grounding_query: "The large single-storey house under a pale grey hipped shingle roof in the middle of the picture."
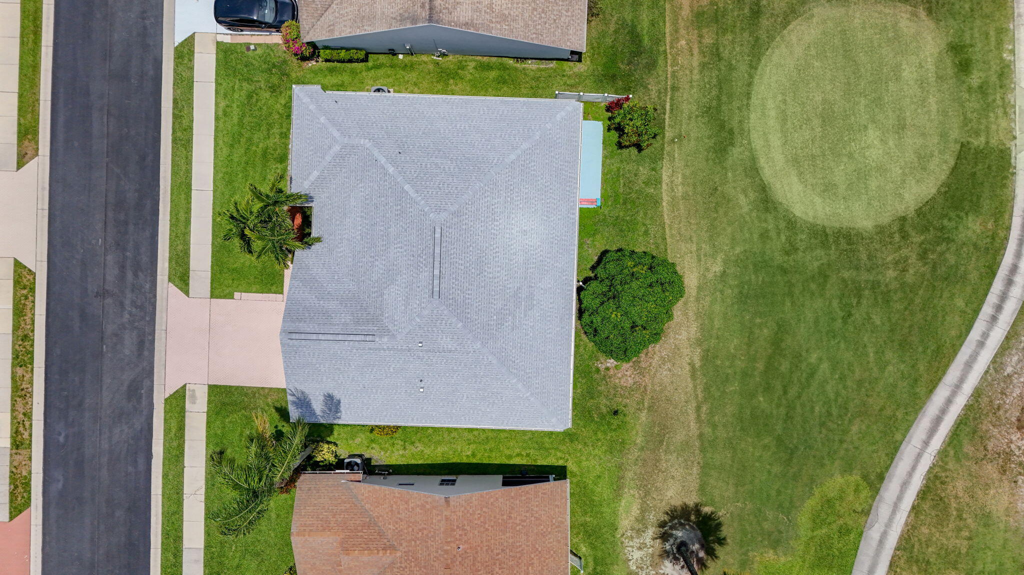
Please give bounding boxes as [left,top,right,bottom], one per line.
[280,84,583,431]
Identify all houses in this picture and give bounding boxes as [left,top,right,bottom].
[291,468,570,575]
[296,0,589,59]
[280,84,583,431]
